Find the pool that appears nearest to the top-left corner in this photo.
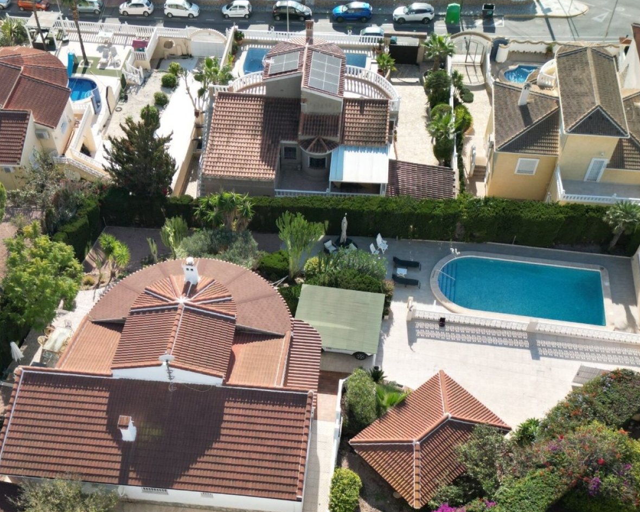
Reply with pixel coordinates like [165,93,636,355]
[68,75,102,103]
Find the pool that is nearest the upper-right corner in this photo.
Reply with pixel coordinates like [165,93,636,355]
[500,62,548,81]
